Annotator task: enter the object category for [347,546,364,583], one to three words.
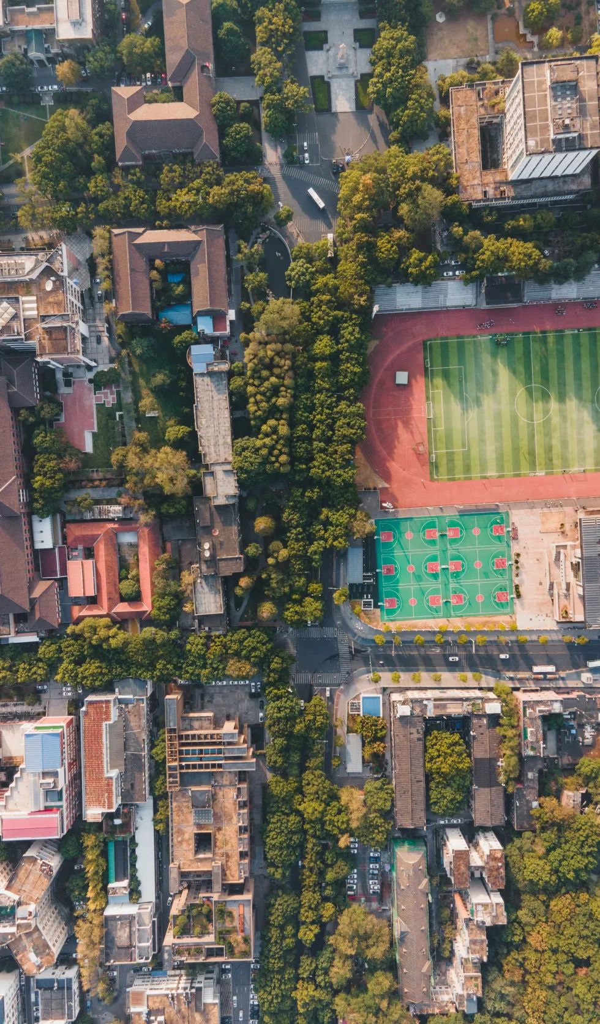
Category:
shed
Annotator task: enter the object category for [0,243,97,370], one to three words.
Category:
building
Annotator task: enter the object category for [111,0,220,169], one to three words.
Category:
building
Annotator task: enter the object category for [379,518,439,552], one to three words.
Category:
basketball court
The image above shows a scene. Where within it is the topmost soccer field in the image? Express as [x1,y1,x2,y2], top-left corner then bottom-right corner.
[422,329,600,481]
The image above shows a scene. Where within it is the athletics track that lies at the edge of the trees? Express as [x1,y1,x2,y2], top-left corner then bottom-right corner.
[353,301,600,509]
